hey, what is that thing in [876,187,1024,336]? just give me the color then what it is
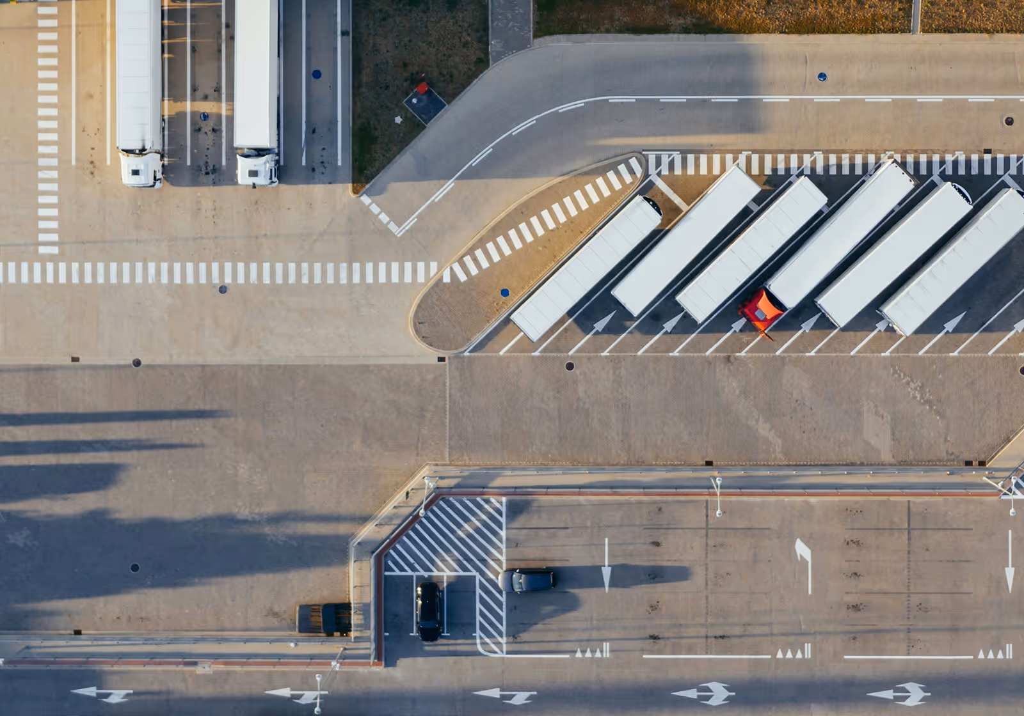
white trailer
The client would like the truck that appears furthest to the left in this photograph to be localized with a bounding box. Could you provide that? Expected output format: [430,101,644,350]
[117,0,166,189]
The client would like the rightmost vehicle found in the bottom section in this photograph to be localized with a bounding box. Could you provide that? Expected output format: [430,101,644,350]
[500,568,556,596]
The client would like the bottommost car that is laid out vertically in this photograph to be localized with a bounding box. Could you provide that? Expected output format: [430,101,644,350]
[415,580,444,641]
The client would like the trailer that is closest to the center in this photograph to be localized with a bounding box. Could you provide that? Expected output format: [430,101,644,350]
[510,194,663,342]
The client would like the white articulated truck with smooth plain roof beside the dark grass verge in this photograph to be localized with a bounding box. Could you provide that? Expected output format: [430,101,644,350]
[234,0,279,188]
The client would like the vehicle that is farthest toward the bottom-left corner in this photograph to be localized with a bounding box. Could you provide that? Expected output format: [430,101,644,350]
[295,602,354,637]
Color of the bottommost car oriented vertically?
black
